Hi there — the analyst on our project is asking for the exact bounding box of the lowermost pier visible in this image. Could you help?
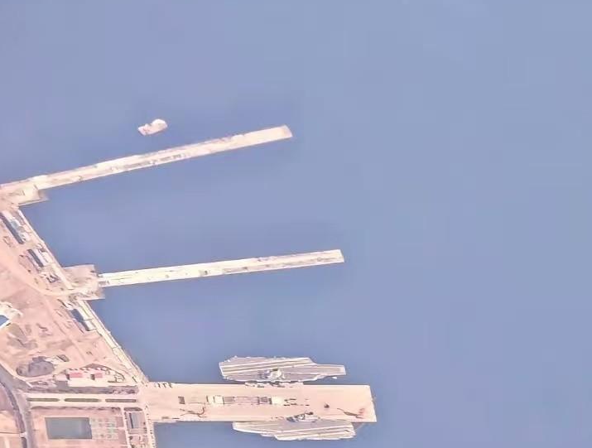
[149,383,378,423]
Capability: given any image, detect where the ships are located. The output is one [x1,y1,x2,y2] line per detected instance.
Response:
[220,357,347,383]
[233,409,357,441]
[137,116,169,136]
